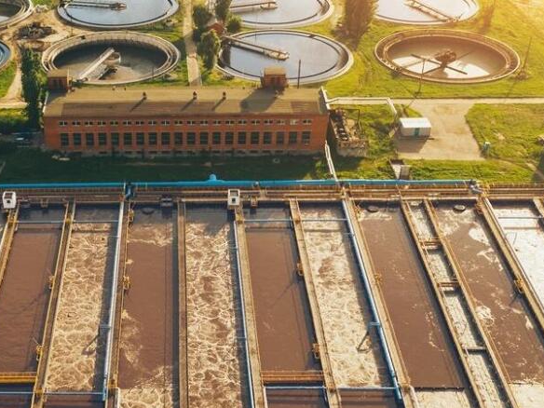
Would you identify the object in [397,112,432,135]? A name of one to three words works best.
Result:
shed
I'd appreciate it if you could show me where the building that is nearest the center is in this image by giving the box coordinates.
[227,185,242,207]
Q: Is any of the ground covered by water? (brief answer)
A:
Yes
